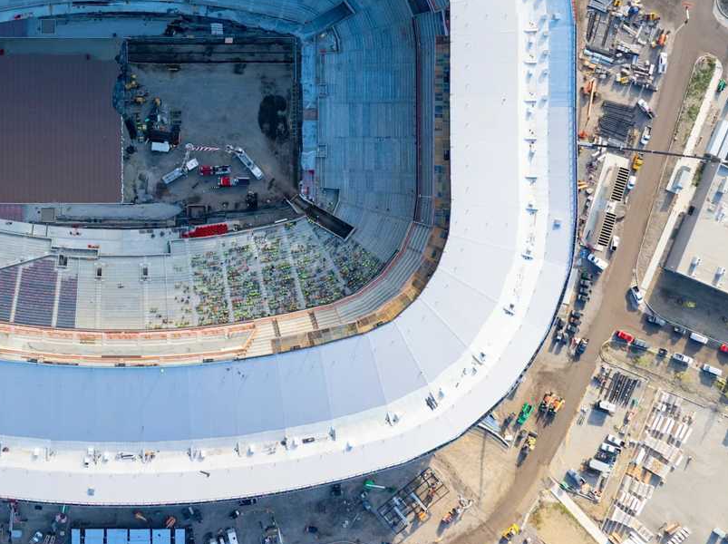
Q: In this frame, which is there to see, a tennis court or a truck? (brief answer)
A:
truck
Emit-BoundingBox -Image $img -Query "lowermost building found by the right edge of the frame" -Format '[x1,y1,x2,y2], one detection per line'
[662,162,728,293]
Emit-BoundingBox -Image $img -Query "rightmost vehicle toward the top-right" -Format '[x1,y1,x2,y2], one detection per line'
[714,78,727,91]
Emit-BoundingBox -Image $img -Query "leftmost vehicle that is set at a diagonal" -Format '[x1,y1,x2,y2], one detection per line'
[28,529,44,544]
